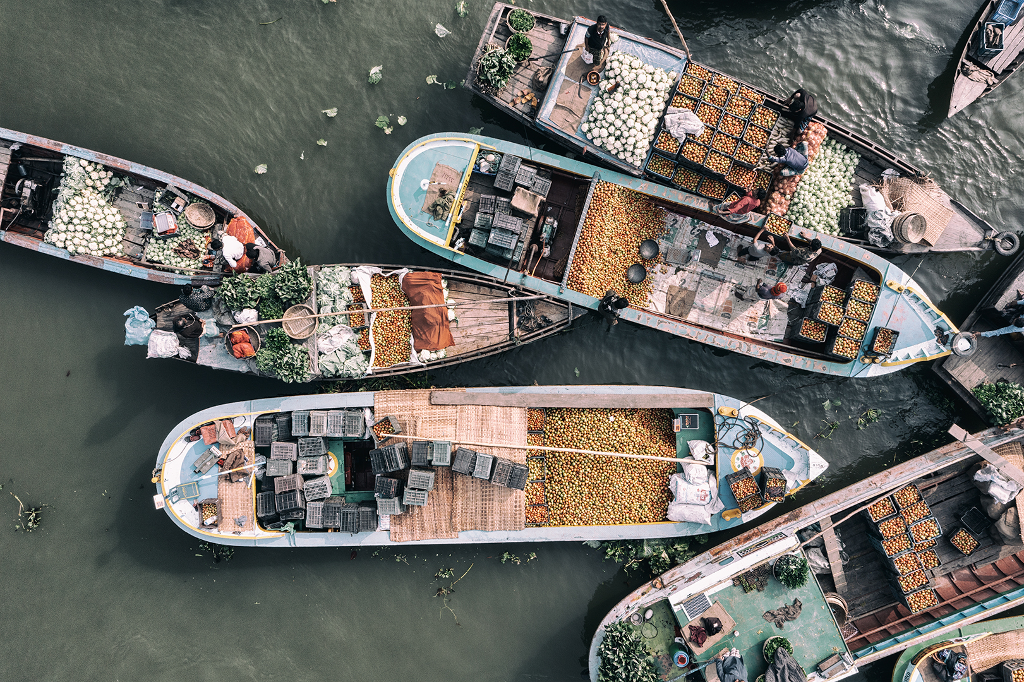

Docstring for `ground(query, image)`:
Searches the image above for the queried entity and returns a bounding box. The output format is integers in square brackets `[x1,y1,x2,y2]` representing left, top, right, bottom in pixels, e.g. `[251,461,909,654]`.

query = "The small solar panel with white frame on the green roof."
[682,591,714,621]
